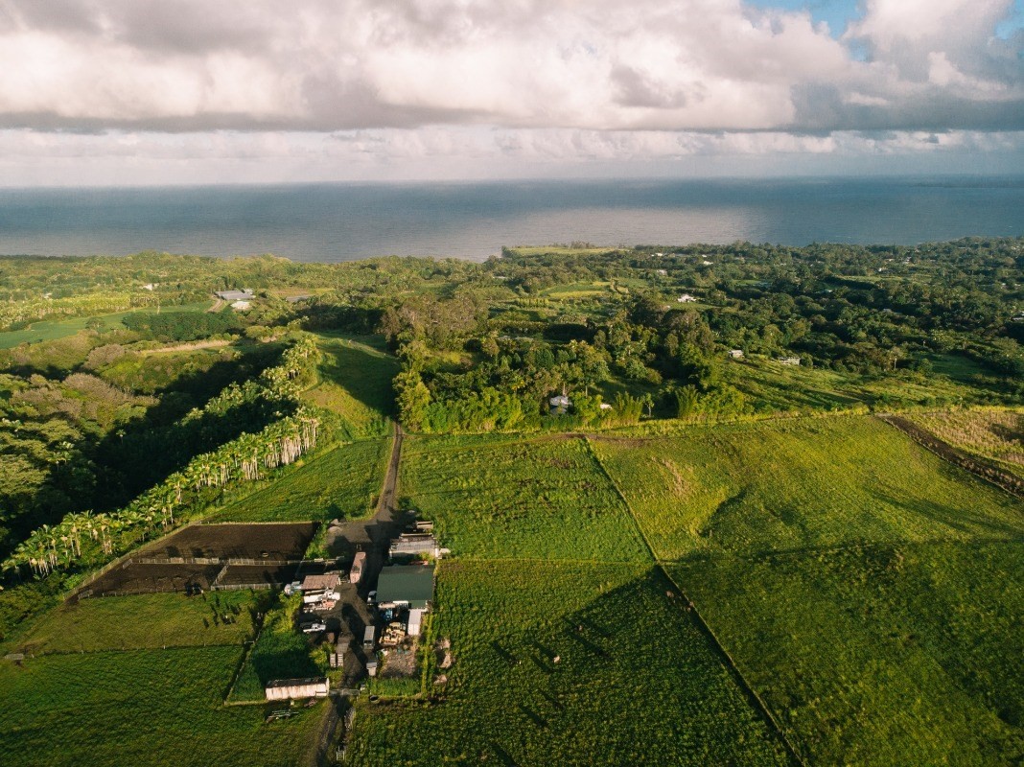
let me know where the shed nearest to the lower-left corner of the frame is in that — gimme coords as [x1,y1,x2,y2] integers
[266,675,331,700]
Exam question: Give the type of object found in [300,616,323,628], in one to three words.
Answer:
vehicle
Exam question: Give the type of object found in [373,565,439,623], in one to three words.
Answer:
shed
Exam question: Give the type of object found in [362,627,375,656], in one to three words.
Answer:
vehicle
